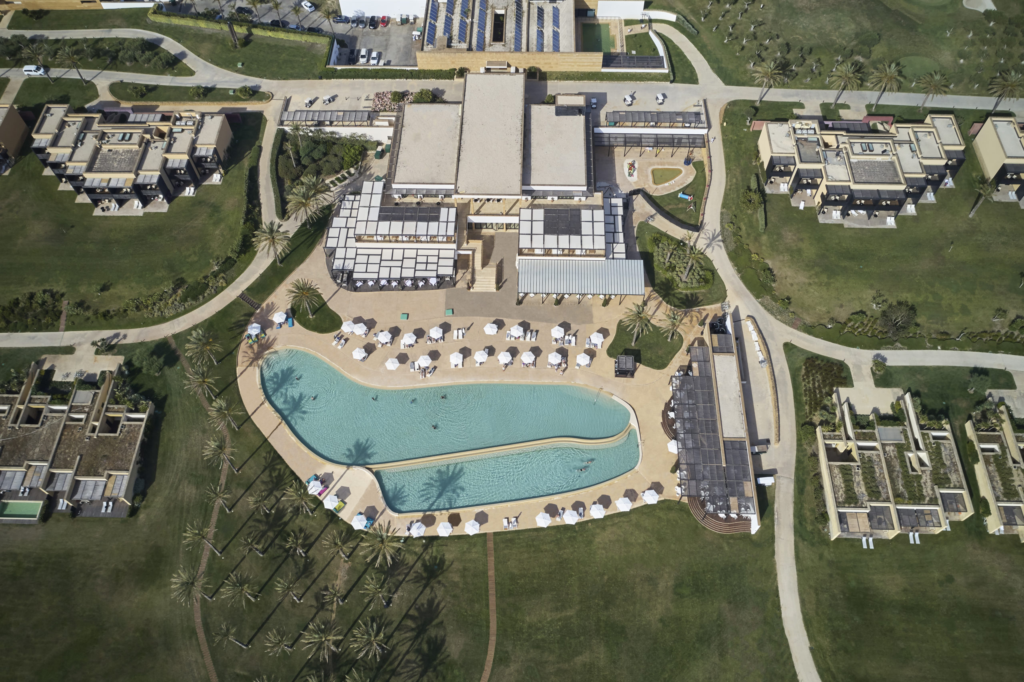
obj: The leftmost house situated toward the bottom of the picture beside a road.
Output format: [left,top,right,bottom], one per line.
[0,362,68,495]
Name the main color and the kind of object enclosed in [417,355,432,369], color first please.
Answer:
white umbrella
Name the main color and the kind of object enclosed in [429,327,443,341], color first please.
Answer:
white umbrella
